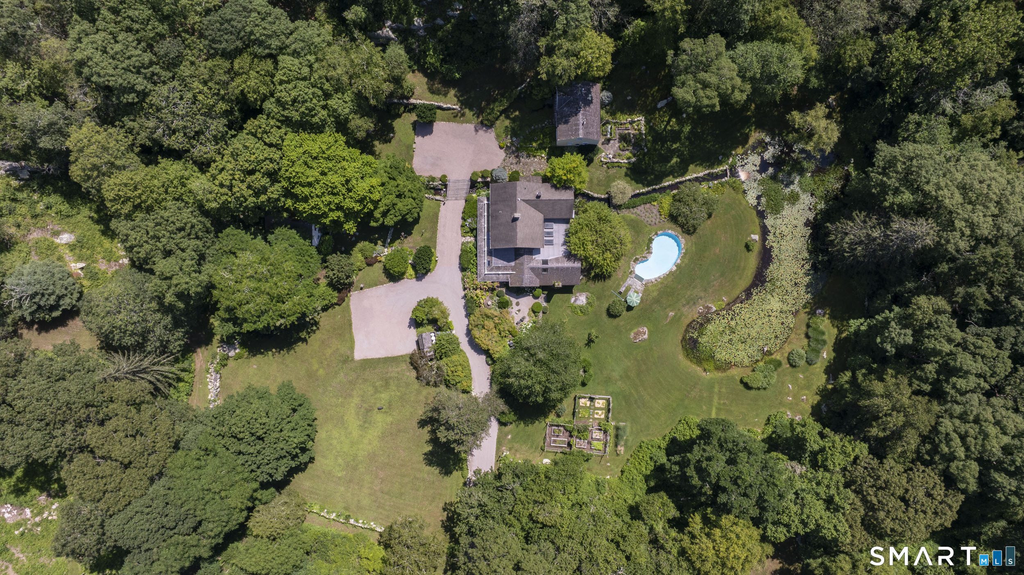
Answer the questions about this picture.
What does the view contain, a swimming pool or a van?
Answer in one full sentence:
Visible in the photo is a swimming pool.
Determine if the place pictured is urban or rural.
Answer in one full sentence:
The land in this view is best described as rural.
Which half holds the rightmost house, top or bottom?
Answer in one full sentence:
It is in the top half that the rightmost house appears.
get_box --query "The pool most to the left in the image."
[629,227,687,285]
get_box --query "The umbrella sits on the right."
[626,292,640,306]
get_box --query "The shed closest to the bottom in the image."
[416,334,435,358]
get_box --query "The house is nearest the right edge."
[552,77,600,145]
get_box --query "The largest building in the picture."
[477,177,581,286]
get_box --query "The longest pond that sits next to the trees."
[683,137,848,369]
